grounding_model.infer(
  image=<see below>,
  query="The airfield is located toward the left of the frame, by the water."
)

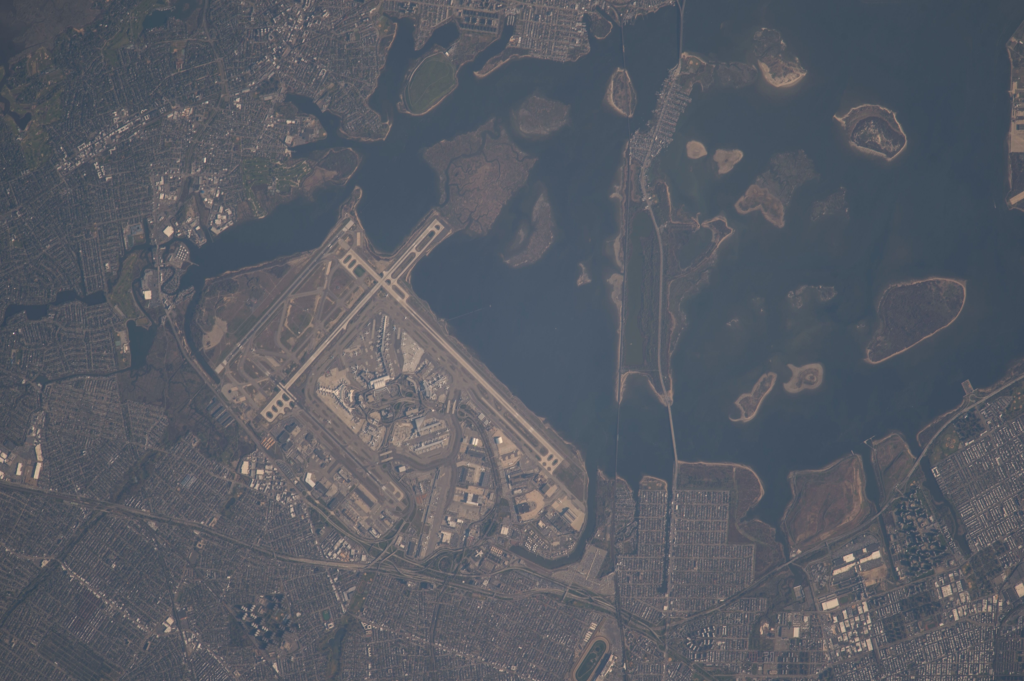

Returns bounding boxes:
[215,214,585,559]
